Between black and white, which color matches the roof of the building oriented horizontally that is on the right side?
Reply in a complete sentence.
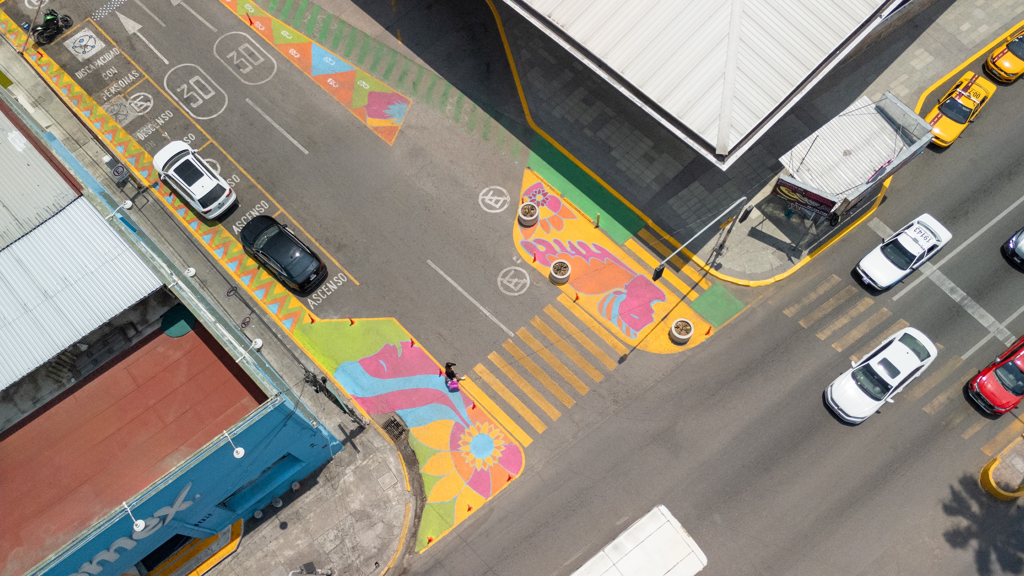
The roof of the building oriented horizontally that is on the right side looks white in the image.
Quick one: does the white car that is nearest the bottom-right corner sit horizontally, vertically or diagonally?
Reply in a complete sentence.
The white car that is nearest the bottom-right corner is laid out diagonally.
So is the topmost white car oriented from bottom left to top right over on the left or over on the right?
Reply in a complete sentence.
The topmost white car oriented from bottom left to top right sits on the right side.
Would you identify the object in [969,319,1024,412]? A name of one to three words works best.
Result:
car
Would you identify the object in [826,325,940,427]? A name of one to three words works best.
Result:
car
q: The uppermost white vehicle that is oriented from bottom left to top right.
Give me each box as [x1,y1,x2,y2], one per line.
[853,211,954,296]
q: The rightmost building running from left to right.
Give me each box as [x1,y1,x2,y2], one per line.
[501,0,903,172]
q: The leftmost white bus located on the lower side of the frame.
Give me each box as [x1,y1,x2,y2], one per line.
[569,506,703,576]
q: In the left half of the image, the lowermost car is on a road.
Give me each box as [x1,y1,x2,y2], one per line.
[242,216,330,298]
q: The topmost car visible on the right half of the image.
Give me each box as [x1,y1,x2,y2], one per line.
[983,17,1024,84]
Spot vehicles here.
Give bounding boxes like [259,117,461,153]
[826,325,940,427]
[156,142,243,228]
[927,69,1001,153]
[983,17,1024,84]
[853,211,954,296]
[1002,218,1024,269]
[969,319,1024,412]
[35,7,74,44]
[569,506,703,576]
[242,216,330,298]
